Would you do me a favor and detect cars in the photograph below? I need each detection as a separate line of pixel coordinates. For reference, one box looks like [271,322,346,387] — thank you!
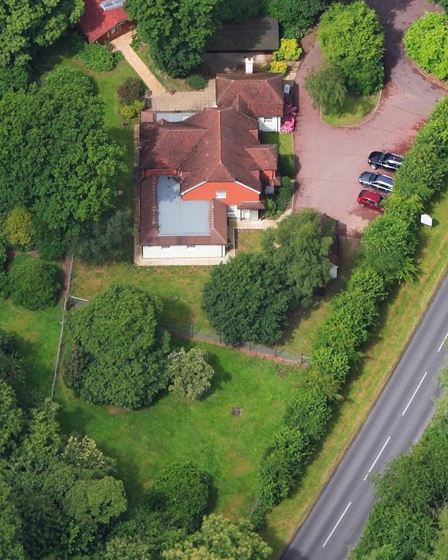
[359,172,402,198]
[356,194,388,212]
[368,154,411,178]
